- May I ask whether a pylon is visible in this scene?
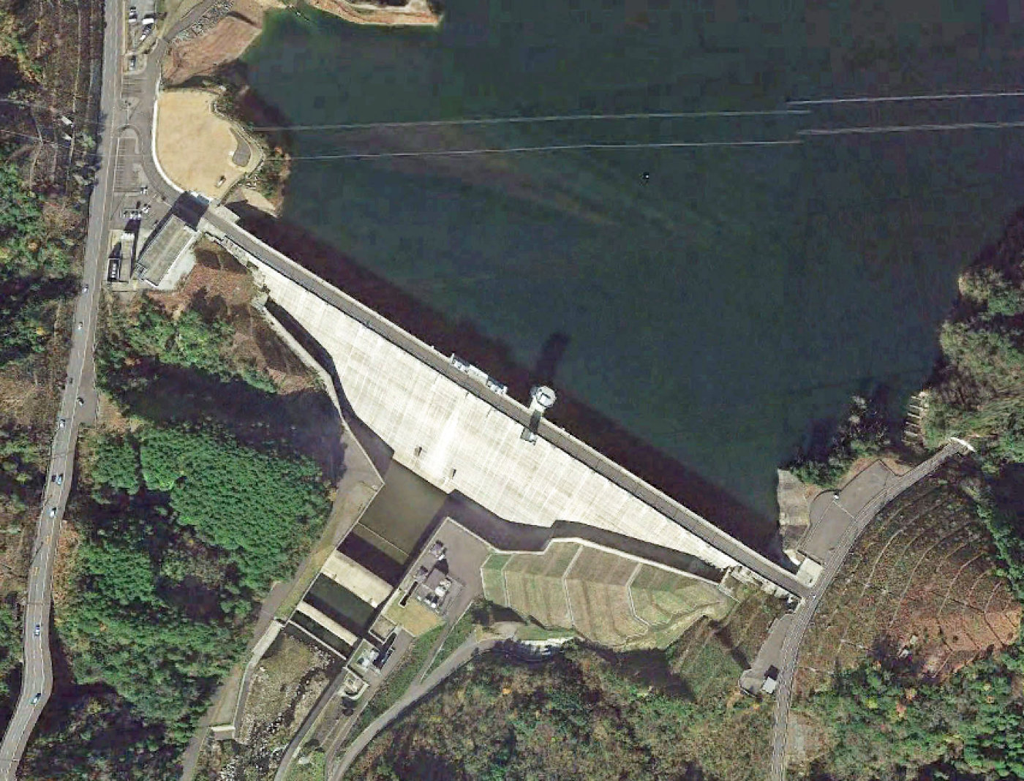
Yes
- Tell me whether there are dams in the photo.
Yes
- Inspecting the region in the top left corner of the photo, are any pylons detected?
Yes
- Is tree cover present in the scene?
Yes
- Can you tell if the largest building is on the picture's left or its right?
left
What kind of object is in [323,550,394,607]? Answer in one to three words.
dam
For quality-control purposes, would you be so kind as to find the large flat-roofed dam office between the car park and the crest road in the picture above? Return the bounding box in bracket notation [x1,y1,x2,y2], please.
[138,215,198,287]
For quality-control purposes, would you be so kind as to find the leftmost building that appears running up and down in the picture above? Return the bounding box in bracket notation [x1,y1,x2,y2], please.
[120,233,135,282]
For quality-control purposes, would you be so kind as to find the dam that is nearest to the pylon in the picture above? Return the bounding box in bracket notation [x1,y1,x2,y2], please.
[201,202,805,613]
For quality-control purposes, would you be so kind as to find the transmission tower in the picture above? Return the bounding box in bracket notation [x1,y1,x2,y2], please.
[61,117,89,148]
